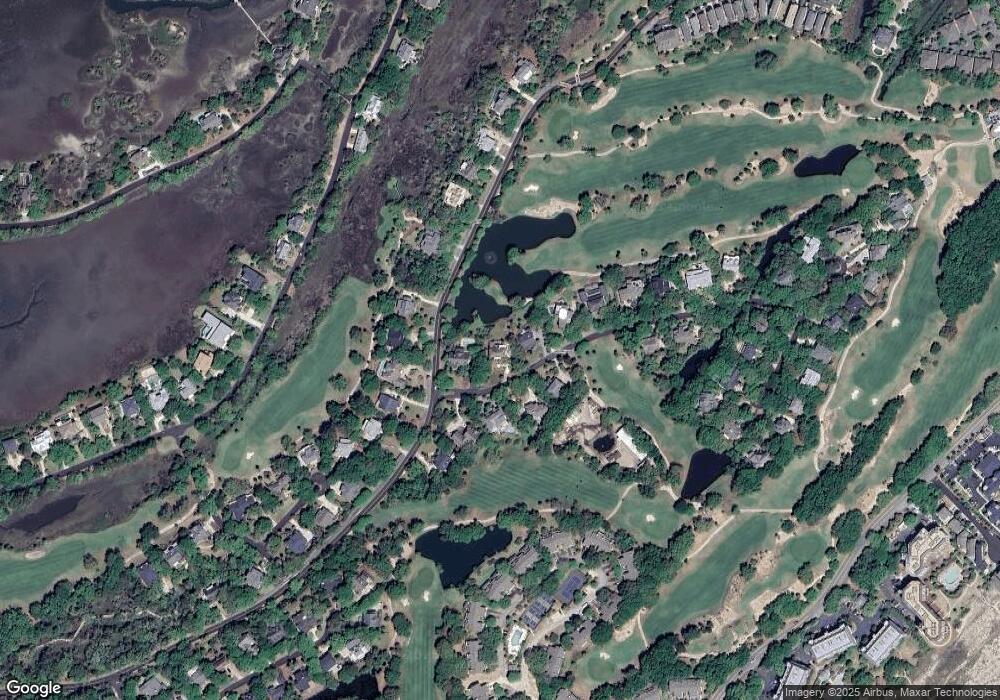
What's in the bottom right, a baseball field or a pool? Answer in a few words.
pool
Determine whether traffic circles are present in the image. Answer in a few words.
No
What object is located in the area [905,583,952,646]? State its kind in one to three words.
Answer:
building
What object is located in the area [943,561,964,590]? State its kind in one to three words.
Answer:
swimming pool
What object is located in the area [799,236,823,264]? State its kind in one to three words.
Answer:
house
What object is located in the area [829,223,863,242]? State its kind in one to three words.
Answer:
house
